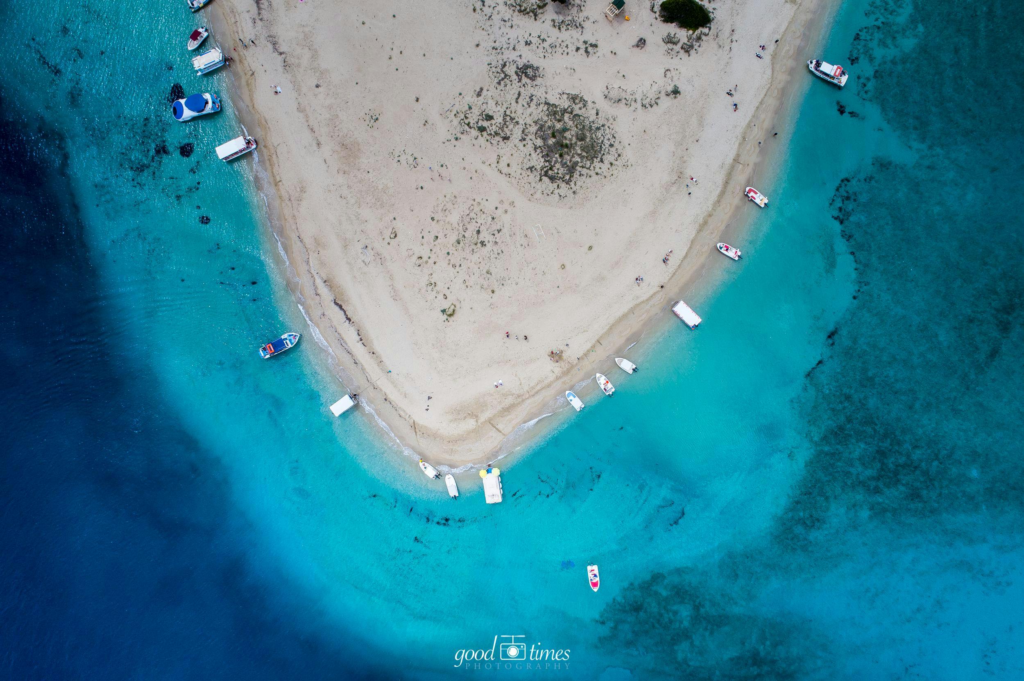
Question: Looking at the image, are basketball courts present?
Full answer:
No, there is no basketball court in the image.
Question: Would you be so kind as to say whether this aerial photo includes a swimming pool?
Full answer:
No, I can see no swimming pool in this picture.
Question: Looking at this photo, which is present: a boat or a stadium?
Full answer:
The one in the frame is a boat.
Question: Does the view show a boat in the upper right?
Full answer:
Yes, a boat can be seen in the upper right.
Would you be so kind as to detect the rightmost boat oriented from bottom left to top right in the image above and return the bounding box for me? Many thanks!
[332,393,360,416]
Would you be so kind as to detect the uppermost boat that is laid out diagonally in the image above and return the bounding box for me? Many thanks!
[188,23,213,50]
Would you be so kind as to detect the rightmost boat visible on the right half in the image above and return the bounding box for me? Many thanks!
[808,60,847,86]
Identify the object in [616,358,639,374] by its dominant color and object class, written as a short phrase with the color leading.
white boat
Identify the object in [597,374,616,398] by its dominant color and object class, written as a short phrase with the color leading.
white boat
